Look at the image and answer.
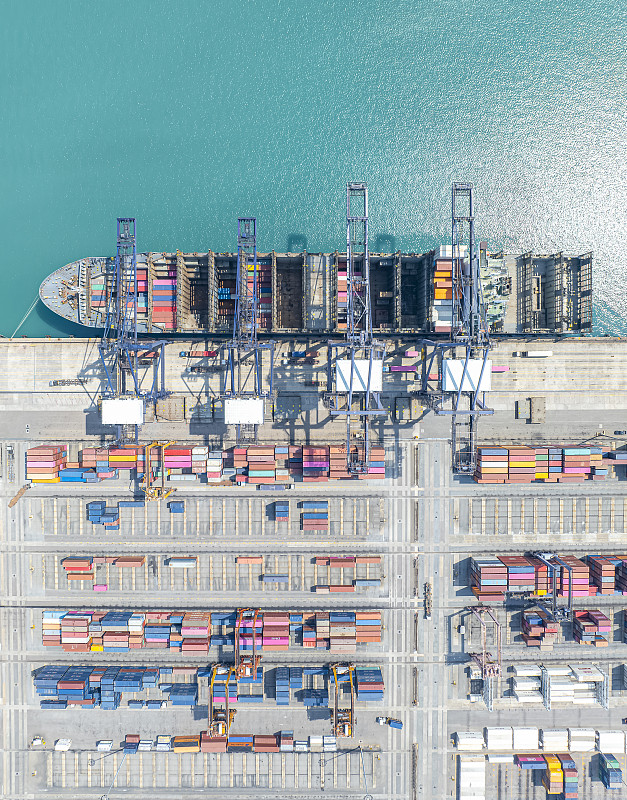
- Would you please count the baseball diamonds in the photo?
0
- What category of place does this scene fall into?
port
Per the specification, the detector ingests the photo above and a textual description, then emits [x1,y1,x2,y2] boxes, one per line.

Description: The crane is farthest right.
[533,554,574,625]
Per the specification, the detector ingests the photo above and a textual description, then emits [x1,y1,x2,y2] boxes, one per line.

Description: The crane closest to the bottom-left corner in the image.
[207,662,240,744]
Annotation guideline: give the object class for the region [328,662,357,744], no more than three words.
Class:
crane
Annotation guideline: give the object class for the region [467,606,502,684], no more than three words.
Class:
crane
